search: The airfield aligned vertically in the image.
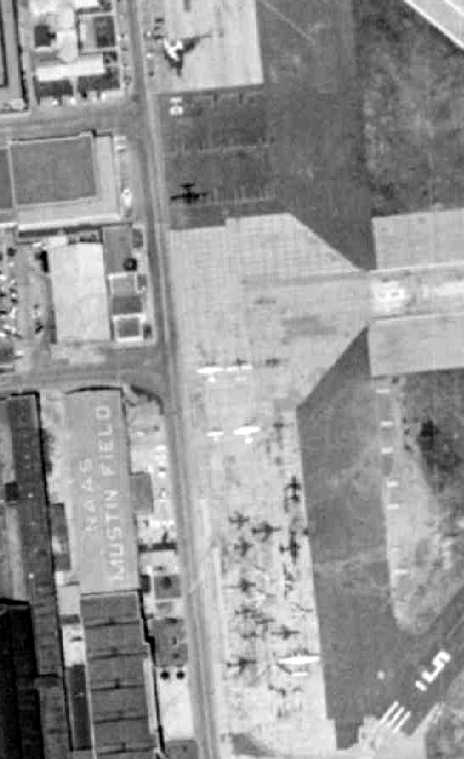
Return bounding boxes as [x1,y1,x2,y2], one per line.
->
[147,0,464,759]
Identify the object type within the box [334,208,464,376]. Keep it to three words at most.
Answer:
runway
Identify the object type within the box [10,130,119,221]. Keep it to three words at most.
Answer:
building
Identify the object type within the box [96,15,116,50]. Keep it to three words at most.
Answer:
building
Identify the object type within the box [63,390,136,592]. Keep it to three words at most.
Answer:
hangar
